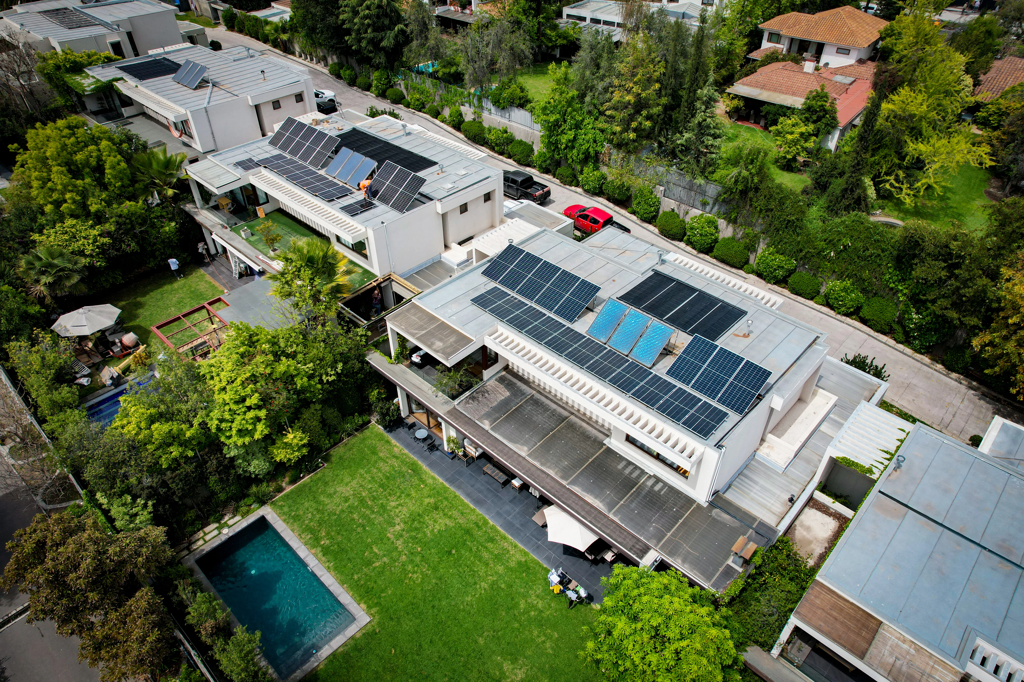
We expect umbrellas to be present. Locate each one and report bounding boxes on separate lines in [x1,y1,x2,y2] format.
[531,493,543,514]
[538,507,595,559]
[52,300,122,355]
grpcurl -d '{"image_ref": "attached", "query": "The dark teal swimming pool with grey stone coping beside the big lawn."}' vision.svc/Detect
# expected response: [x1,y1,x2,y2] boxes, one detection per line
[180,504,372,682]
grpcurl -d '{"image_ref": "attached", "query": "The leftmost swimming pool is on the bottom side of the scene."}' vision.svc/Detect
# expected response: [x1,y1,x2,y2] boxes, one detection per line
[64,360,216,485]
